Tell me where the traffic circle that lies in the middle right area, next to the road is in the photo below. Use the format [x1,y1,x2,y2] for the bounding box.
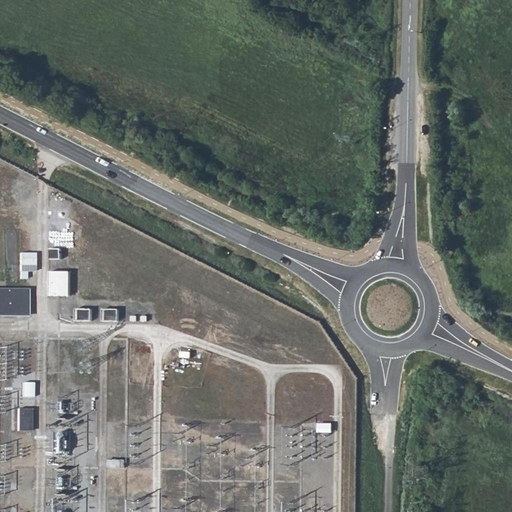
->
[284,183,512,386]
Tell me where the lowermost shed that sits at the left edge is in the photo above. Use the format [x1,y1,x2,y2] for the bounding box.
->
[17,408,35,431]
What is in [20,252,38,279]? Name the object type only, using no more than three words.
house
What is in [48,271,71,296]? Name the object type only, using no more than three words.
building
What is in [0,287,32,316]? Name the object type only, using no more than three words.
building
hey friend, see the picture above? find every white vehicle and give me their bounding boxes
[468,338,480,347]
[374,250,384,261]
[372,393,378,406]
[95,156,109,166]
[36,126,48,136]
